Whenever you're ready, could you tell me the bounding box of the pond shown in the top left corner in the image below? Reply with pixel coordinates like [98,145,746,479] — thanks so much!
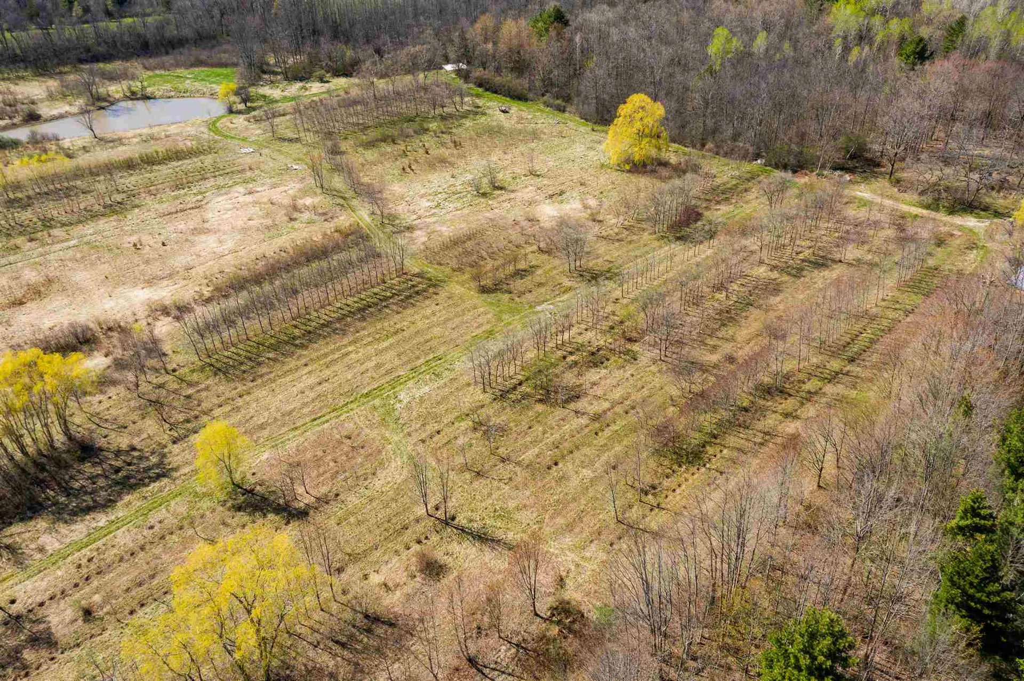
[0,97,232,142]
